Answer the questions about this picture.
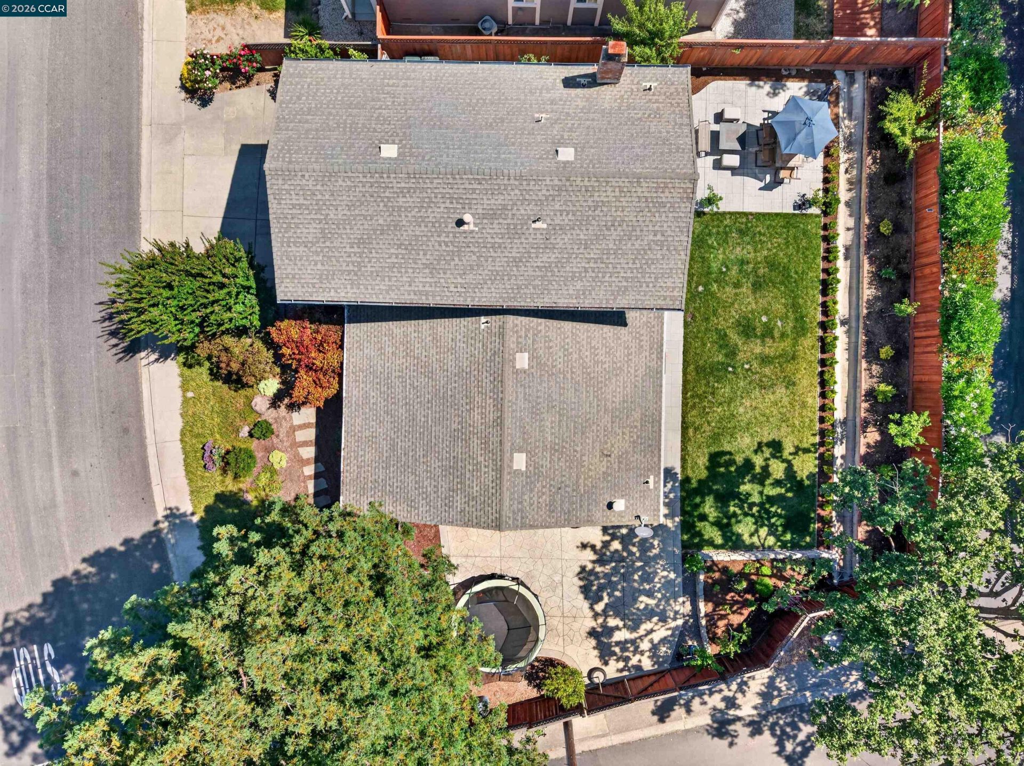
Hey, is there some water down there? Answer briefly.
No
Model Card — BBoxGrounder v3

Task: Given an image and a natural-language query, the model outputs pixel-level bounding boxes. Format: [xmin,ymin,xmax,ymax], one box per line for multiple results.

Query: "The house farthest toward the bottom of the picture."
[263,38,700,531]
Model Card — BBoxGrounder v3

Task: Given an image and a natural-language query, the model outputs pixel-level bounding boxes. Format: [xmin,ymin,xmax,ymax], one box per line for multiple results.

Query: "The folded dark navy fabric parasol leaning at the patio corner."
[807,78,842,102]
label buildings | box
[340,0,727,26]
[263,38,700,531]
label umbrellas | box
[772,96,839,159]
[807,78,842,102]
